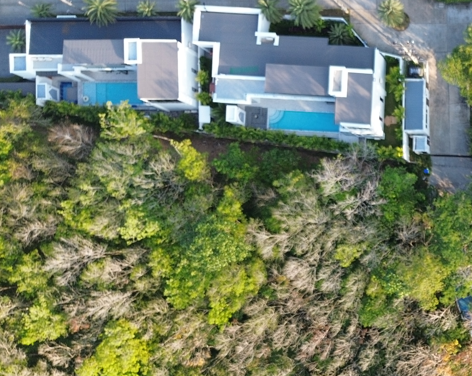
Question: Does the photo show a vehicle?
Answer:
No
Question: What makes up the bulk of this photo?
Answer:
trees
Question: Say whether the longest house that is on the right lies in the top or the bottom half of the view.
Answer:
top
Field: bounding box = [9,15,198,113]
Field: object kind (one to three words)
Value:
house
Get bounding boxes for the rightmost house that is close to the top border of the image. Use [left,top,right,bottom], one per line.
[194,6,387,142]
